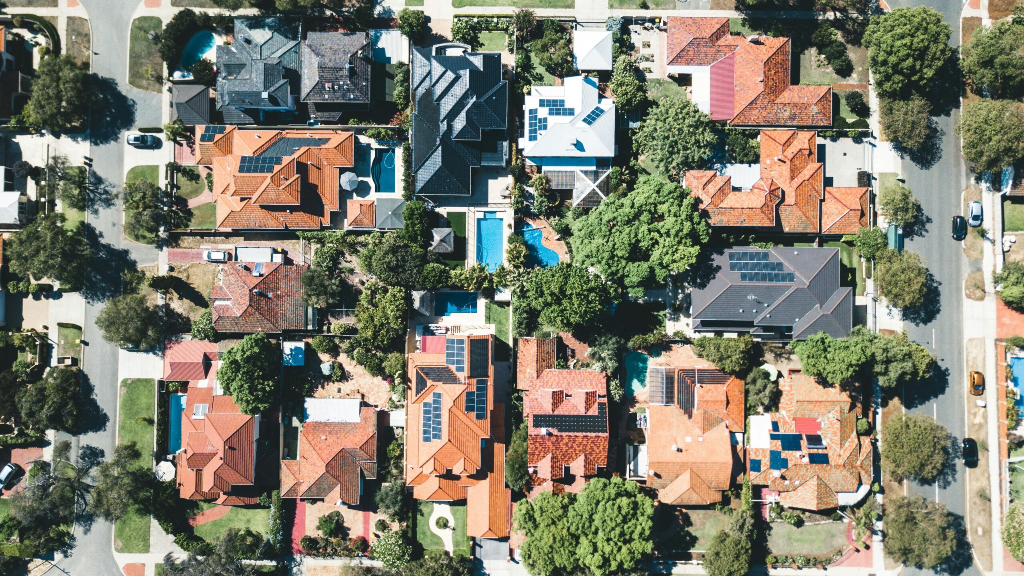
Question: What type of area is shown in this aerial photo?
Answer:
residential area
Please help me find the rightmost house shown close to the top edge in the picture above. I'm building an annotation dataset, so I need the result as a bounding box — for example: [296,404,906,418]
[664,17,833,128]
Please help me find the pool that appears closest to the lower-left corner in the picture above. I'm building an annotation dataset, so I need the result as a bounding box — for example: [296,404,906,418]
[168,393,186,455]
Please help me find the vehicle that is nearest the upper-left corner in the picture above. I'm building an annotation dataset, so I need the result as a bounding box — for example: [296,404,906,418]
[127,133,158,147]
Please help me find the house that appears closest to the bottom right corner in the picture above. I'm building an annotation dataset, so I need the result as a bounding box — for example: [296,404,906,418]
[747,374,873,510]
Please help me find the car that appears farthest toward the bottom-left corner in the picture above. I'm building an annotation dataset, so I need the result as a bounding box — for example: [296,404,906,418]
[0,461,20,490]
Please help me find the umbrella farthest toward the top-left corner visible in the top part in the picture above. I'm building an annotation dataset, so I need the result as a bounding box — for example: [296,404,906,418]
[341,173,358,190]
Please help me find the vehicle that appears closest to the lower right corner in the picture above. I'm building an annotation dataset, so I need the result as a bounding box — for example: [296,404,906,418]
[960,438,978,467]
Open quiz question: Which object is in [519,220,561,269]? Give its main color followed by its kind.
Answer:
blue swimming pool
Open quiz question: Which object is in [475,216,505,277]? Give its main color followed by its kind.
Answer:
blue swimming pool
